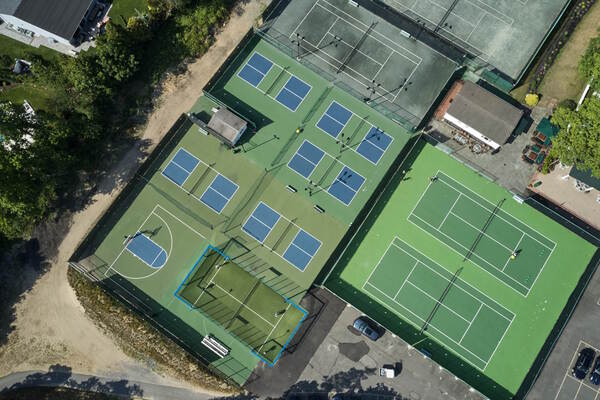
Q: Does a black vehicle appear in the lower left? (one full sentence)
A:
No, I see no black vehicle in the lower left.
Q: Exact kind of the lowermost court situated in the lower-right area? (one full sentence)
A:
The lowermost court situated in the lower-right area appears to be a tennis court.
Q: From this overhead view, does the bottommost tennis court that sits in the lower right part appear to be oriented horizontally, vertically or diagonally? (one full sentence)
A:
Seen from above, the bottommost tennis court that sits in the lower right part lies diagonally.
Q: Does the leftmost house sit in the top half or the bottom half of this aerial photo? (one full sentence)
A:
You can find the leftmost house in the top half.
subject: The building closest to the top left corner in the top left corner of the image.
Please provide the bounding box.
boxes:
[0,0,110,49]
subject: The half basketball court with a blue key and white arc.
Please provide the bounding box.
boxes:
[105,205,205,331]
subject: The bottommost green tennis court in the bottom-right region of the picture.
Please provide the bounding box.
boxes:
[363,236,516,371]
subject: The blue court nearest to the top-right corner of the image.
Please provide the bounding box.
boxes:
[315,101,394,165]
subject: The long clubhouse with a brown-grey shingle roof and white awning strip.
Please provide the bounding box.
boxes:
[436,80,522,159]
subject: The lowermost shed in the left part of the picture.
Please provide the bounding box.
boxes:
[207,108,248,146]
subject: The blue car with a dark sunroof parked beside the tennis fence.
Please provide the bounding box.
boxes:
[354,315,380,341]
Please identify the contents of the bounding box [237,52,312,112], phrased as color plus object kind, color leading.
blue sports court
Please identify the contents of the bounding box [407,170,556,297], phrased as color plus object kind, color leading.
green tennis court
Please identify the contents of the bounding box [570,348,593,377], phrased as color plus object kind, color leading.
black car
